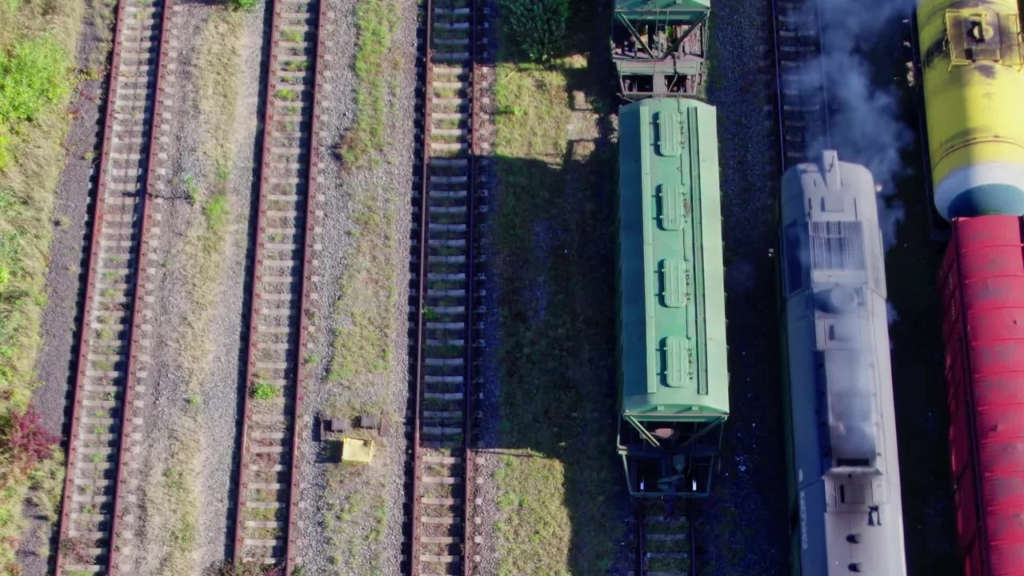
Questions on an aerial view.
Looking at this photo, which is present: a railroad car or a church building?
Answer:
railroad car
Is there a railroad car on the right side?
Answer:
Yes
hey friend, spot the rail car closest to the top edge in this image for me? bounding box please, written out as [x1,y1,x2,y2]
[607,0,712,102]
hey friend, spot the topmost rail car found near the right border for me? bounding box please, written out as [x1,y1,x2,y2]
[905,0,1024,238]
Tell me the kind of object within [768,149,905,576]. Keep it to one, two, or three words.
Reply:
rail car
